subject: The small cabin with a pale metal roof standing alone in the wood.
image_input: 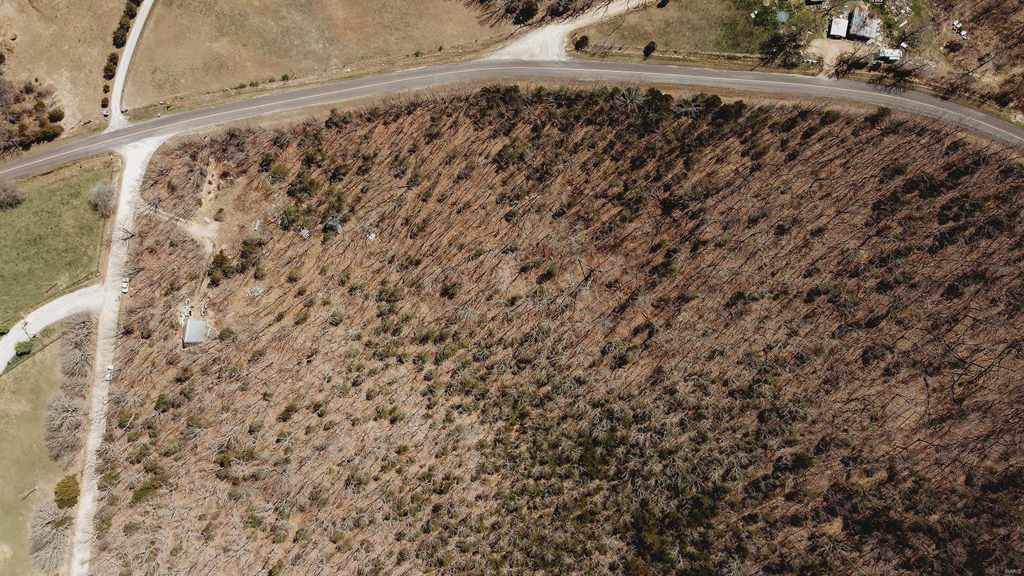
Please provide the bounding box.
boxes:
[179,319,204,344]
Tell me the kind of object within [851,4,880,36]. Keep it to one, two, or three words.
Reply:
house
